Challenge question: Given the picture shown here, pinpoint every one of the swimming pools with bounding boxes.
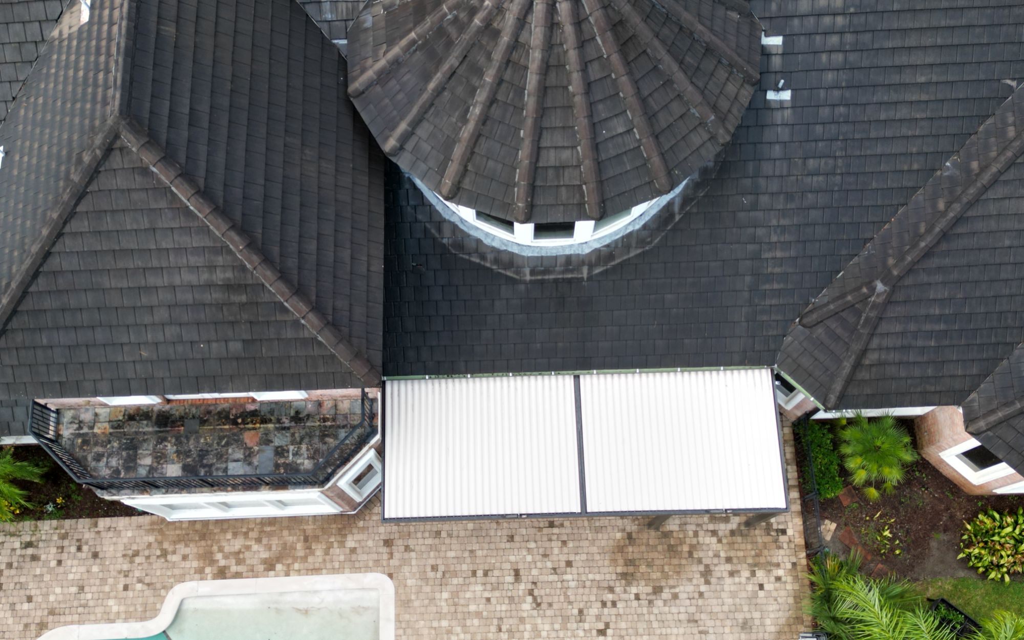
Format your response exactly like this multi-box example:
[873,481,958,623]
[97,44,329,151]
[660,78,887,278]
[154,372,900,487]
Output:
[38,573,395,640]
